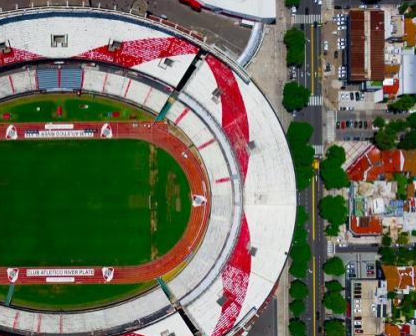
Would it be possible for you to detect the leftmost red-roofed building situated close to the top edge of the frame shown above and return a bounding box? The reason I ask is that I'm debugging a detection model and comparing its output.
[344,9,385,82]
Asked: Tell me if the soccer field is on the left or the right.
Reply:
left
